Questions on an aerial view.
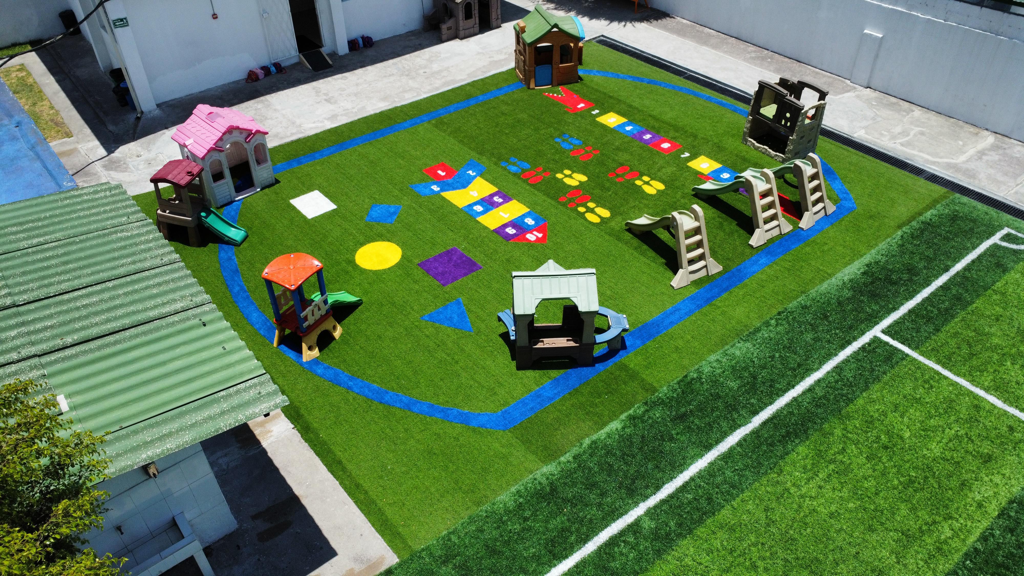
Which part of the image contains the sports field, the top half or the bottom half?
bottom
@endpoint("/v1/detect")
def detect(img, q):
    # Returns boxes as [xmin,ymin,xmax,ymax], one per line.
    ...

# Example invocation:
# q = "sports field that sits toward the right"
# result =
[376,192,1024,576]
